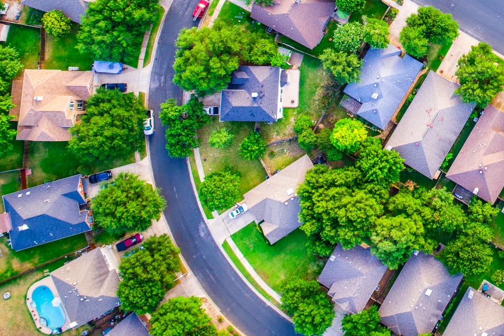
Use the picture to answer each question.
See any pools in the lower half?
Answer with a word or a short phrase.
Yes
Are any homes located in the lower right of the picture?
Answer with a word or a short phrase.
Yes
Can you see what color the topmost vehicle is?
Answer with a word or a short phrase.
red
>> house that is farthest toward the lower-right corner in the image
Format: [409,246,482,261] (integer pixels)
[442,287,504,336]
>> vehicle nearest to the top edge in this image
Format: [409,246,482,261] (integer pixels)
[191,0,210,21]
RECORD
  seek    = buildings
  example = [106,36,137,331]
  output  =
[341,38,424,130]
[219,66,285,121]
[22,0,112,25]
[382,71,477,176]
[381,254,460,336]
[317,244,388,313]
[251,0,337,50]
[49,247,125,327]
[442,287,504,336]
[446,104,504,204]
[96,318,151,336]
[242,155,313,245]
[0,174,98,252]
[10,70,102,143]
